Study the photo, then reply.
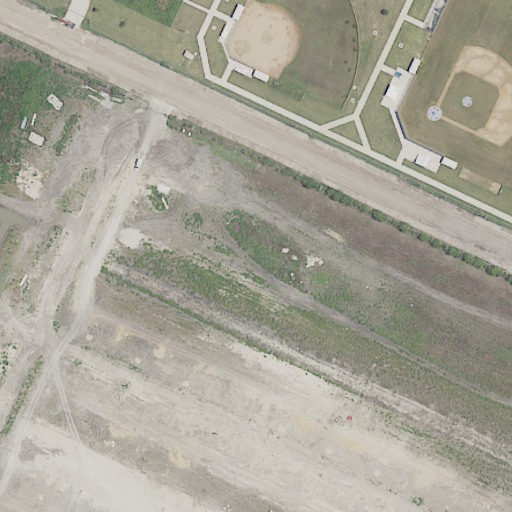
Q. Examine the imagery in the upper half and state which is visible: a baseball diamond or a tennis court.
baseball diamond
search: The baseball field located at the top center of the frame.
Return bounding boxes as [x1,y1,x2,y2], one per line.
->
[227,0,358,108]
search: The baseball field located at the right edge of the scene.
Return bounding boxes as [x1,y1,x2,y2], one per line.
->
[398,0,512,194]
